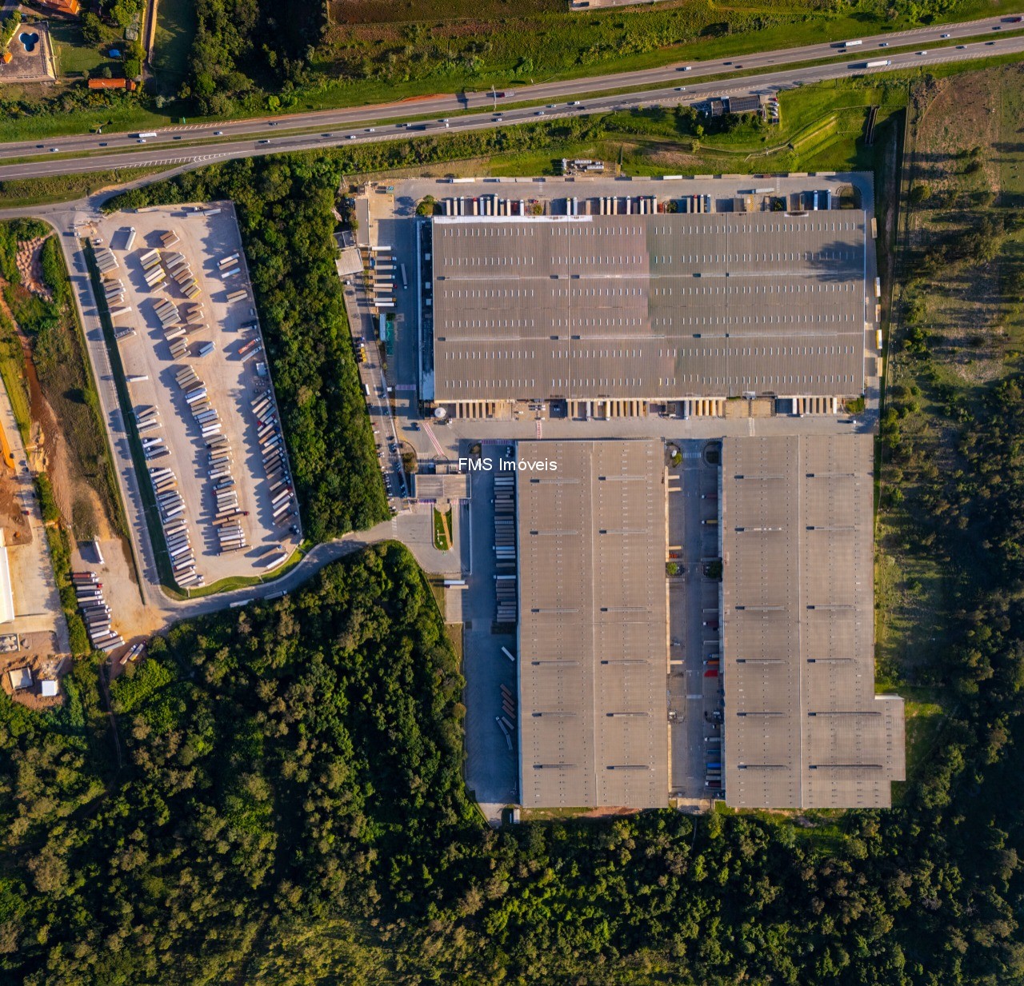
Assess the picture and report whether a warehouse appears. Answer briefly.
Yes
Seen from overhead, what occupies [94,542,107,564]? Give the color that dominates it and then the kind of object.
white vehicle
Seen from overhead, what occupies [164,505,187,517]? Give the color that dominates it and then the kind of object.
white vehicle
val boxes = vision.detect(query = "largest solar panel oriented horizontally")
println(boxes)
[730,96,759,111]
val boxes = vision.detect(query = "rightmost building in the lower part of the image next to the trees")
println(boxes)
[718,434,905,808]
